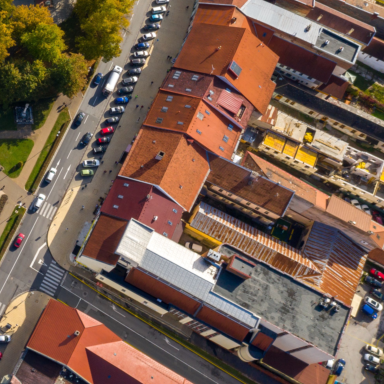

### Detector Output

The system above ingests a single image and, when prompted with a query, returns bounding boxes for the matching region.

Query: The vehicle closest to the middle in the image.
[184,241,202,254]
